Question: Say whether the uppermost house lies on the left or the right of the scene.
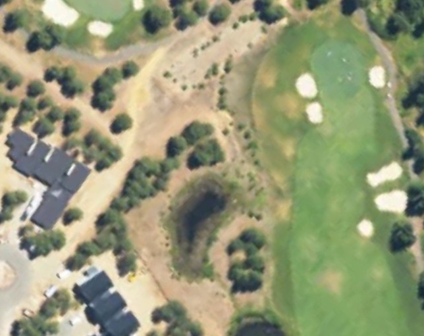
left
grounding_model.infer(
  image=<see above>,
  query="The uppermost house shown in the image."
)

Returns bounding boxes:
[1,128,91,230]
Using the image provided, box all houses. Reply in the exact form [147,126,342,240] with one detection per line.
[1,128,91,230]
[75,263,139,336]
